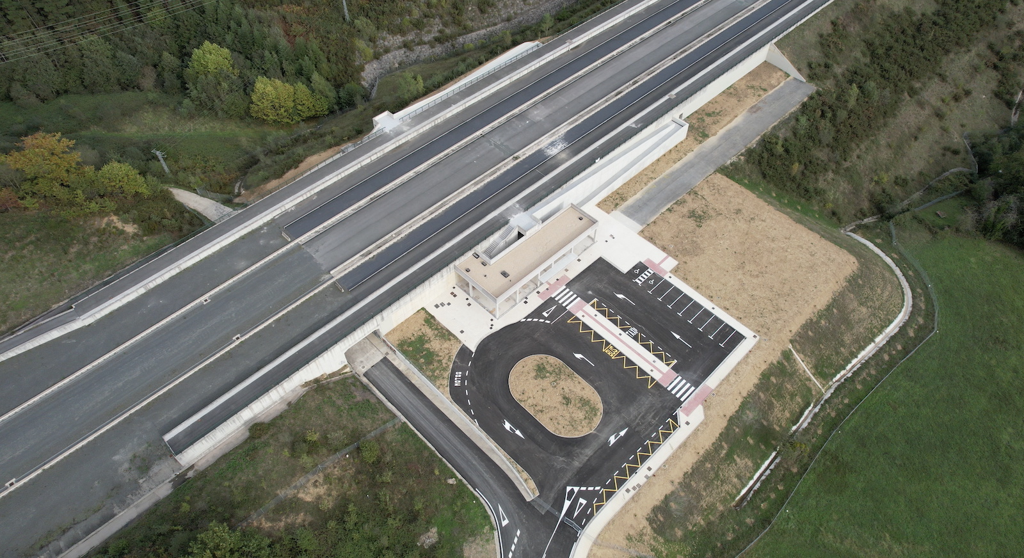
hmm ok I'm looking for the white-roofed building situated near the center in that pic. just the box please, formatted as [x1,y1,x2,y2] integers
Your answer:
[455,202,600,320]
